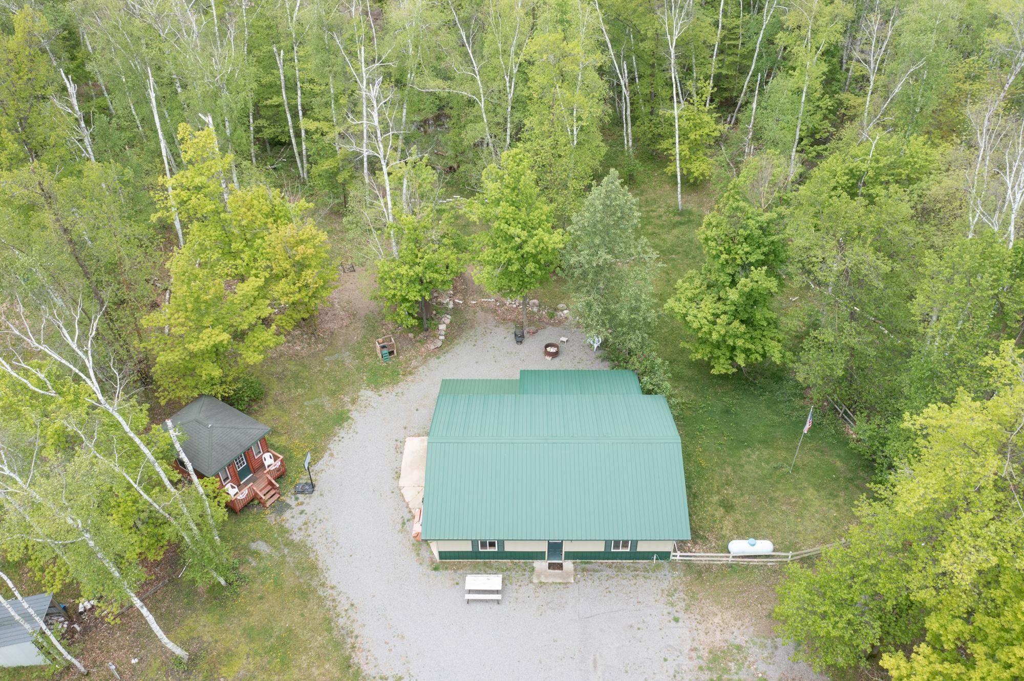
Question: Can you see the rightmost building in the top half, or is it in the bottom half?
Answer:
bottom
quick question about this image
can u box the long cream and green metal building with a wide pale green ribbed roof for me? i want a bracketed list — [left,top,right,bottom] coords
[422,370,691,563]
